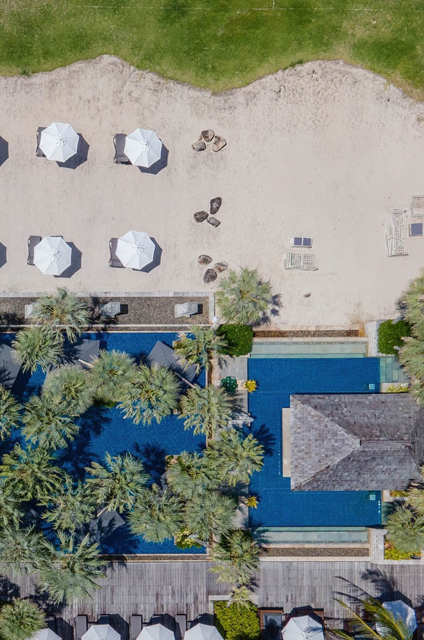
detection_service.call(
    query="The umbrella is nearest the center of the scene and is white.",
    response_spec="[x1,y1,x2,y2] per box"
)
[115,231,155,270]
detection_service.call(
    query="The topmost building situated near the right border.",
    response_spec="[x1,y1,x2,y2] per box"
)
[291,394,424,491]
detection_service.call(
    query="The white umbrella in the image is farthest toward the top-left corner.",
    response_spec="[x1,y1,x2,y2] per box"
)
[39,123,79,163]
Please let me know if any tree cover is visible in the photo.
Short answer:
Yes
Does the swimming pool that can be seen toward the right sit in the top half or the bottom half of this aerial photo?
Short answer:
bottom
